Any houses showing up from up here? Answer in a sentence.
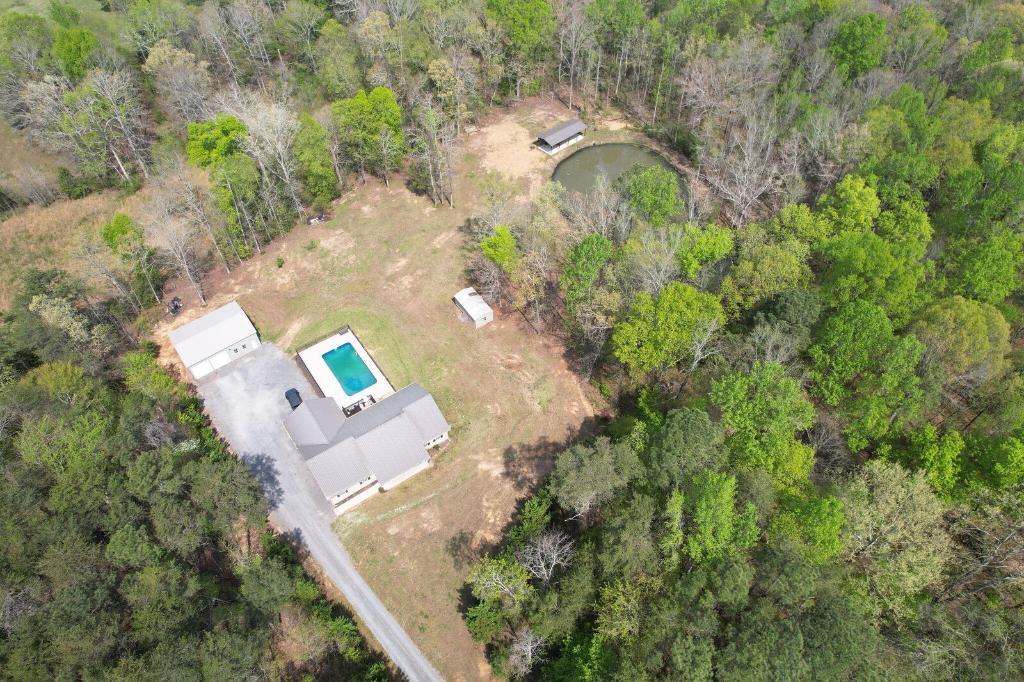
Yes, a house is visible in the scene.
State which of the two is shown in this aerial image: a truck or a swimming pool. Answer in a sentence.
I can see a swimming pool in this picture.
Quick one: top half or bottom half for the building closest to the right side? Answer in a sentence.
The top half of the photo is where the building closest to the right side is.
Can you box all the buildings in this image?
[535,118,587,156]
[168,301,261,379]
[282,382,453,506]
[454,287,494,328]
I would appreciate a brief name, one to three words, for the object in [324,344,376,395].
swimming pool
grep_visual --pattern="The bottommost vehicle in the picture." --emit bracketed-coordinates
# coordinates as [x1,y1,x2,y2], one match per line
[286,389,303,410]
